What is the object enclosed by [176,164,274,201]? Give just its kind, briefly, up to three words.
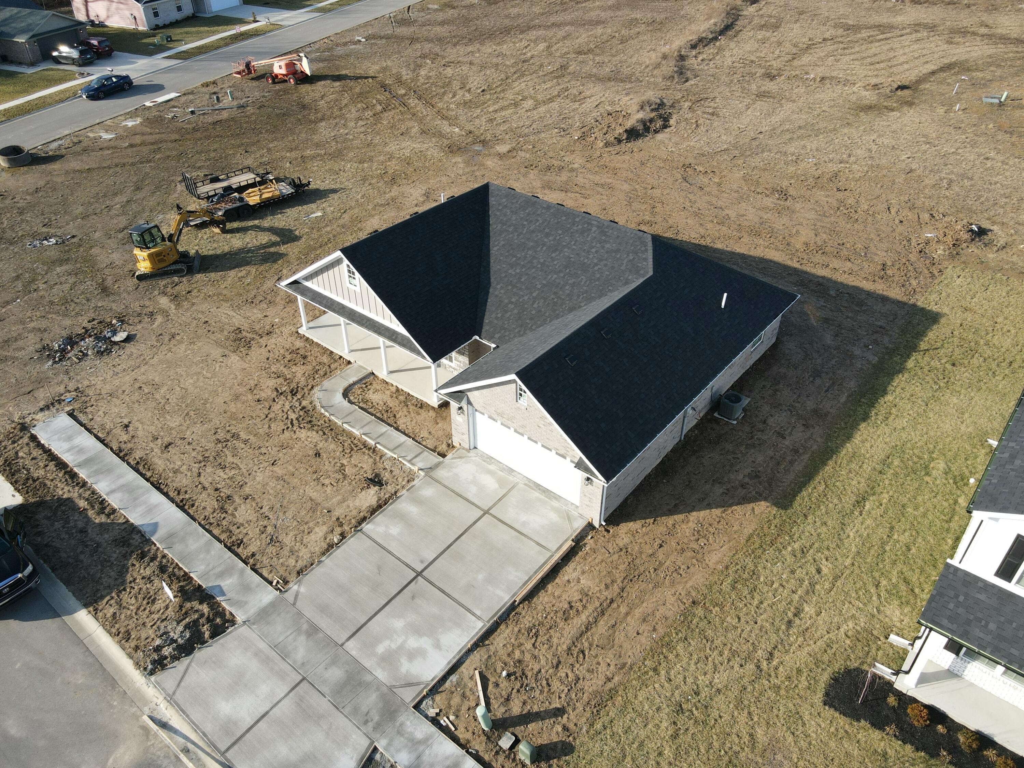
trailer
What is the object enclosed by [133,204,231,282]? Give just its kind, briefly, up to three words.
work vehicle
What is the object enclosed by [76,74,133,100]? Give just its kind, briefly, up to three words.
car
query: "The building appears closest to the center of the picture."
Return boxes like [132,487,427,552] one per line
[277,180,798,536]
